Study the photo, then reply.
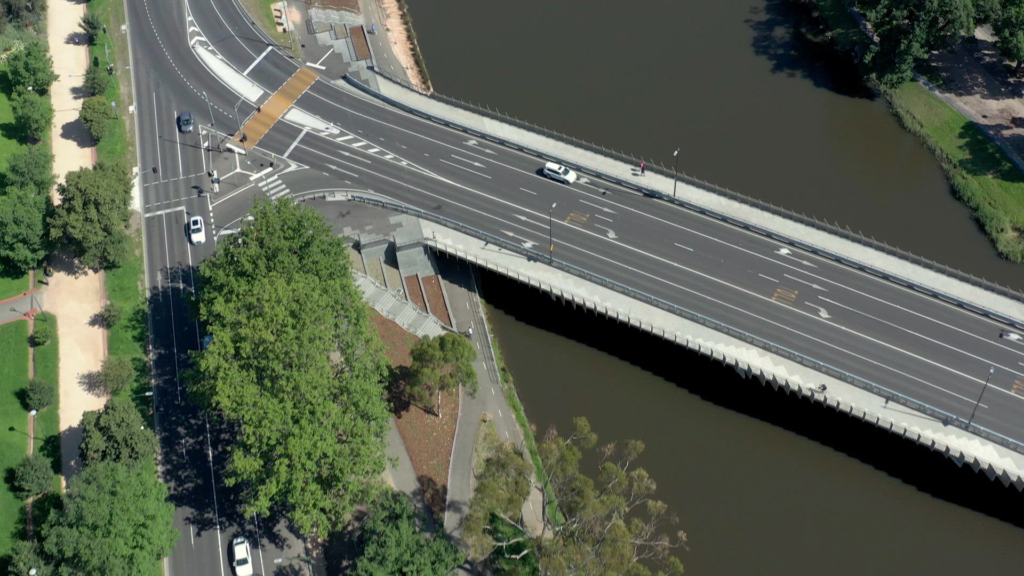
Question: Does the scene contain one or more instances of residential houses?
No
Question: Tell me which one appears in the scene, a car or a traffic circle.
car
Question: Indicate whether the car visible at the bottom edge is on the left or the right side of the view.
left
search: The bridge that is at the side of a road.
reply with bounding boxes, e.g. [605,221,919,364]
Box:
[375,69,1024,486]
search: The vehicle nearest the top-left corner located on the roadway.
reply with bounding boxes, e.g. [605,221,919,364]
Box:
[178,109,193,131]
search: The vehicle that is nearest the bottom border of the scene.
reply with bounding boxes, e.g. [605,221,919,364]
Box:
[232,536,253,576]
